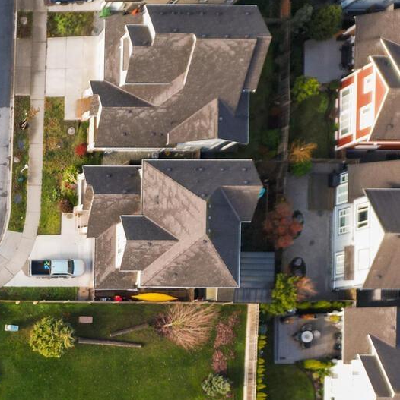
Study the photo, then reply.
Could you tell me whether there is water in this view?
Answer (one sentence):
No, the picture contains no water.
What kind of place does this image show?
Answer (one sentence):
This image shows a residential area.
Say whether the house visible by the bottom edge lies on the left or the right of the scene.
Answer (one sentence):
The house visible by the bottom edge sits on the right side.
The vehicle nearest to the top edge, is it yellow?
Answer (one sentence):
No, the color of the vehicle nearest to the top edge is white.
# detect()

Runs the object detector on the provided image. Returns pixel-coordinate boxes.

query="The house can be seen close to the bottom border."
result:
[323,304,400,400]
